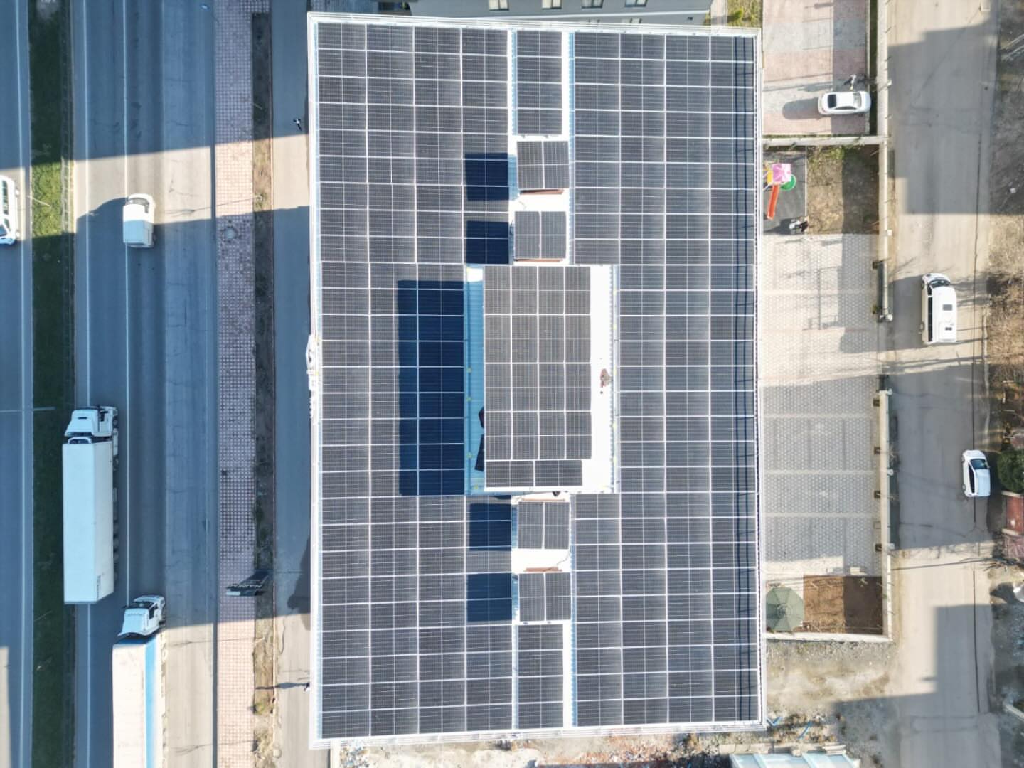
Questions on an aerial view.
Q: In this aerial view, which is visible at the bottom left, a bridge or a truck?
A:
truck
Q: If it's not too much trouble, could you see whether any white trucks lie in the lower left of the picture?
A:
Yes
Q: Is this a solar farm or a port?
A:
solar farm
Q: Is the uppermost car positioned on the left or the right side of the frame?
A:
right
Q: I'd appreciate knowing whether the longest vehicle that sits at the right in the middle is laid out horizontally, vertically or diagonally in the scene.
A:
vertically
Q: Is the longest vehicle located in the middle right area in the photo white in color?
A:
Yes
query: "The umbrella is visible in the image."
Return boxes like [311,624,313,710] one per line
[765,587,803,630]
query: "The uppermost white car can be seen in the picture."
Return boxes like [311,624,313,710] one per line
[820,89,871,115]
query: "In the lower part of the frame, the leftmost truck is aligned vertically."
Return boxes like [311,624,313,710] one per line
[64,406,119,602]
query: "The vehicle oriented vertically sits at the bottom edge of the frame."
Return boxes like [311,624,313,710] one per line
[114,596,166,768]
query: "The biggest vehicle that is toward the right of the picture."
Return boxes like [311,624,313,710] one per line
[919,273,955,344]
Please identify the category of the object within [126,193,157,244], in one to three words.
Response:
van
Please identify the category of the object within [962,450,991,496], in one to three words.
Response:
car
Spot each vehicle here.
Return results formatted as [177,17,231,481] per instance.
[0,172,17,243]
[962,450,991,496]
[126,193,157,244]
[64,406,119,602]
[114,596,166,768]
[820,89,871,115]
[919,273,955,344]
